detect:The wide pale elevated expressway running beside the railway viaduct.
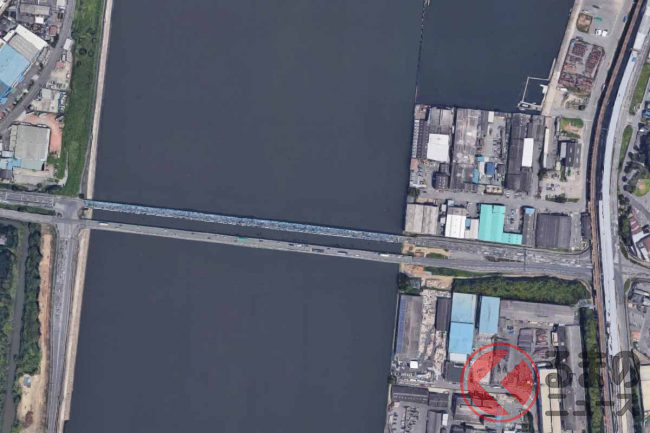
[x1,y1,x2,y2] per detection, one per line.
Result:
[600,0,650,433]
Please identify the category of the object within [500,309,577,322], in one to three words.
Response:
shed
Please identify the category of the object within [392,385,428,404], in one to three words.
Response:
building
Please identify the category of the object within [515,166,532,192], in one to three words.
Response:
building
